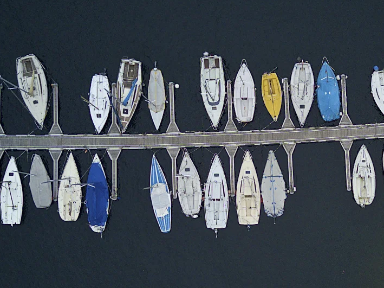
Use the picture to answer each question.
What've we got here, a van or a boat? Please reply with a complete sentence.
It is a boat that can be seen here.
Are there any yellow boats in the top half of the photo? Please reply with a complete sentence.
Yes, there is a yellow boat in the top half of the photo.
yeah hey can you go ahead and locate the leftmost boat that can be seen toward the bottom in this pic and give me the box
[0,147,28,228]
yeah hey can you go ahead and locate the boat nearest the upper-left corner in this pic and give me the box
[0,52,49,134]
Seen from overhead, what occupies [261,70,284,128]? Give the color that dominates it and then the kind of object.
yellow boat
